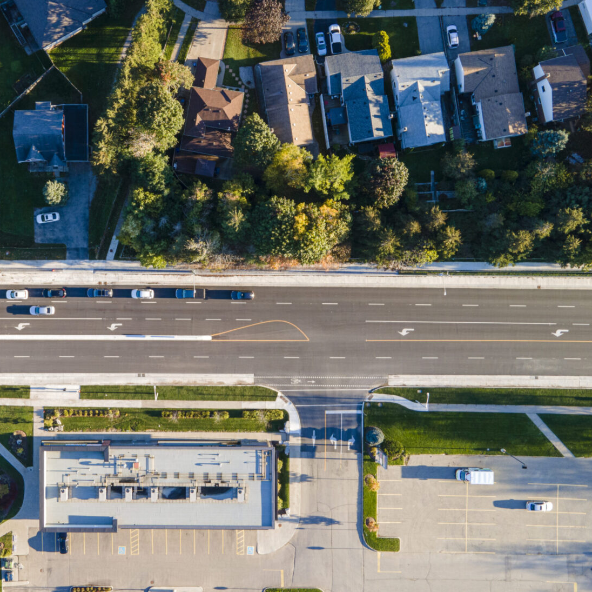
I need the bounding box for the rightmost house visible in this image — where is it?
[527,51,592,121]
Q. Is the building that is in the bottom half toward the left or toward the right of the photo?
left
